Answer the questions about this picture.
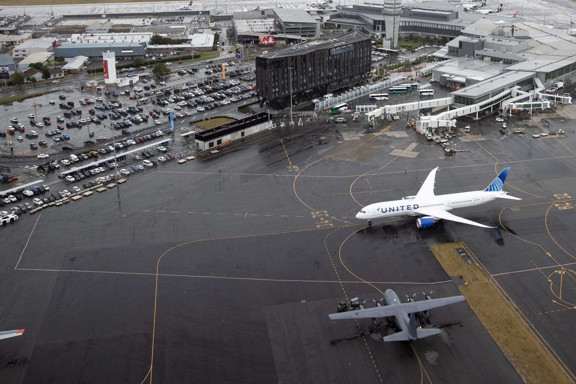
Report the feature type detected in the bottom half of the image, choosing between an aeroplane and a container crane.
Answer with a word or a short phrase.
aeroplane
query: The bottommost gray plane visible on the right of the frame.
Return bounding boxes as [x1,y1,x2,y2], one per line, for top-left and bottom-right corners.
[327,286,466,340]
